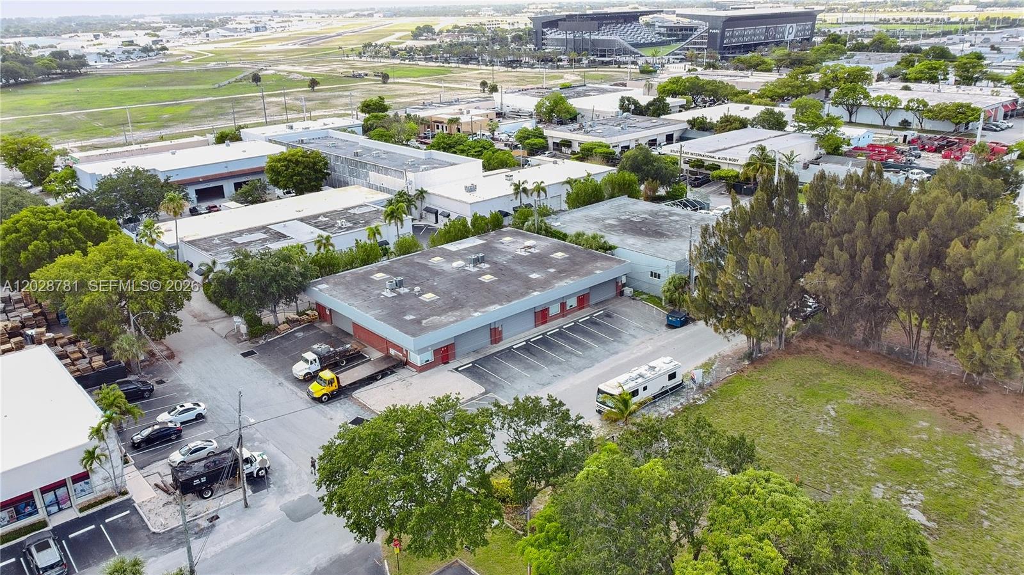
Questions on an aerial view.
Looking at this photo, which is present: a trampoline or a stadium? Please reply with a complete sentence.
Of the two, only a stadium appears.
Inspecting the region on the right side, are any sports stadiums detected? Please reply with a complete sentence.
Yes, the scene does show a sports stadium on the right side.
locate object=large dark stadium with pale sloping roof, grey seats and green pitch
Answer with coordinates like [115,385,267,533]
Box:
[515,9,829,62]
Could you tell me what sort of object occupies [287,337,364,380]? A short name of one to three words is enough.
truck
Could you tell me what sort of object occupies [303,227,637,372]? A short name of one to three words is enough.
building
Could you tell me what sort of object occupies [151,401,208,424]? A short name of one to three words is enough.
car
